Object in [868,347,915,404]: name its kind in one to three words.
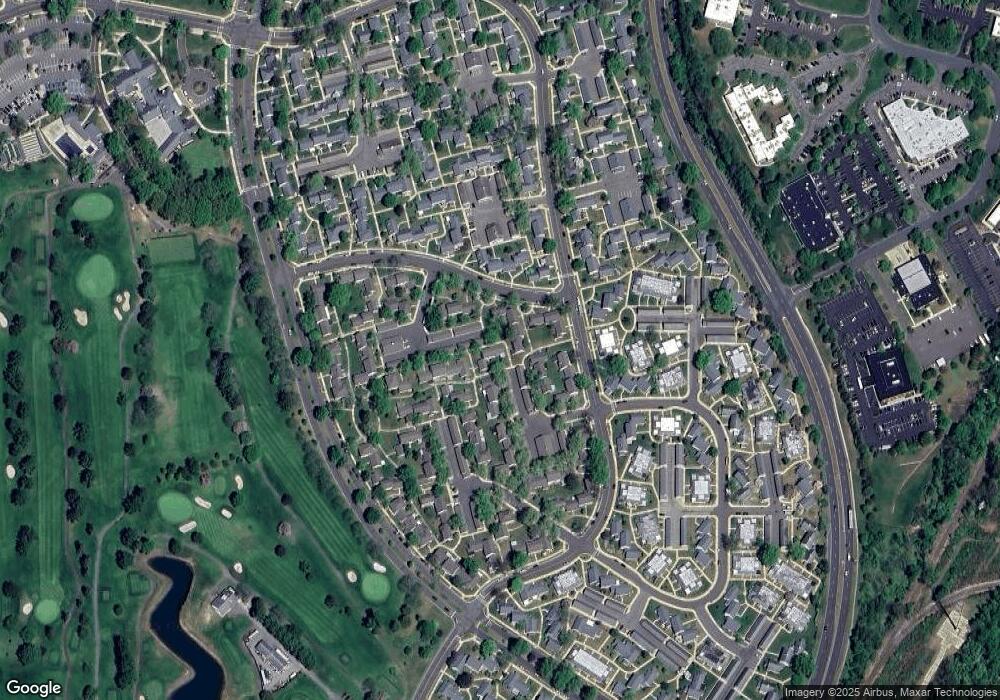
building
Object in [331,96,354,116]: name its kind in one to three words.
house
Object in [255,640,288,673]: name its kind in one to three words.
barn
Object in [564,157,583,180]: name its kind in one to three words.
house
